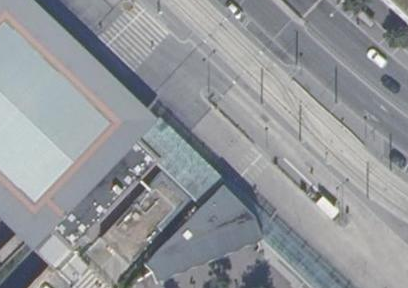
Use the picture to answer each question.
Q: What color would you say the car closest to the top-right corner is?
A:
white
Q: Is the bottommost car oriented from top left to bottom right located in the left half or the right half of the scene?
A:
right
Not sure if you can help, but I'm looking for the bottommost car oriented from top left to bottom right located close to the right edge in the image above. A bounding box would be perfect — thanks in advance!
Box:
[387,149,408,169]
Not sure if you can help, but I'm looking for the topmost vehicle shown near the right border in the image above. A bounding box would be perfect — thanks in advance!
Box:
[366,48,388,69]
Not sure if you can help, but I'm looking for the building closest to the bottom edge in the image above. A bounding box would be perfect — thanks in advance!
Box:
[60,254,88,282]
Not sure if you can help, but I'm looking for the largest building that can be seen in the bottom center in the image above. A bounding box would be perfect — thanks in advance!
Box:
[146,185,262,283]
